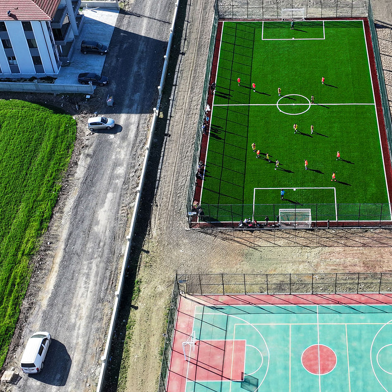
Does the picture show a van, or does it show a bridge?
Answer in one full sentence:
Visible in the photo is a van.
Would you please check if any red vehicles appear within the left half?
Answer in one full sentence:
No, no red vehicle is visible within the left half.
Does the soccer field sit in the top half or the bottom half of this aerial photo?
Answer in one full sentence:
The top half of the photo is where the soccer field is.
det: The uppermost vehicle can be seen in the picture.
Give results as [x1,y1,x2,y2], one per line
[81,38,110,53]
